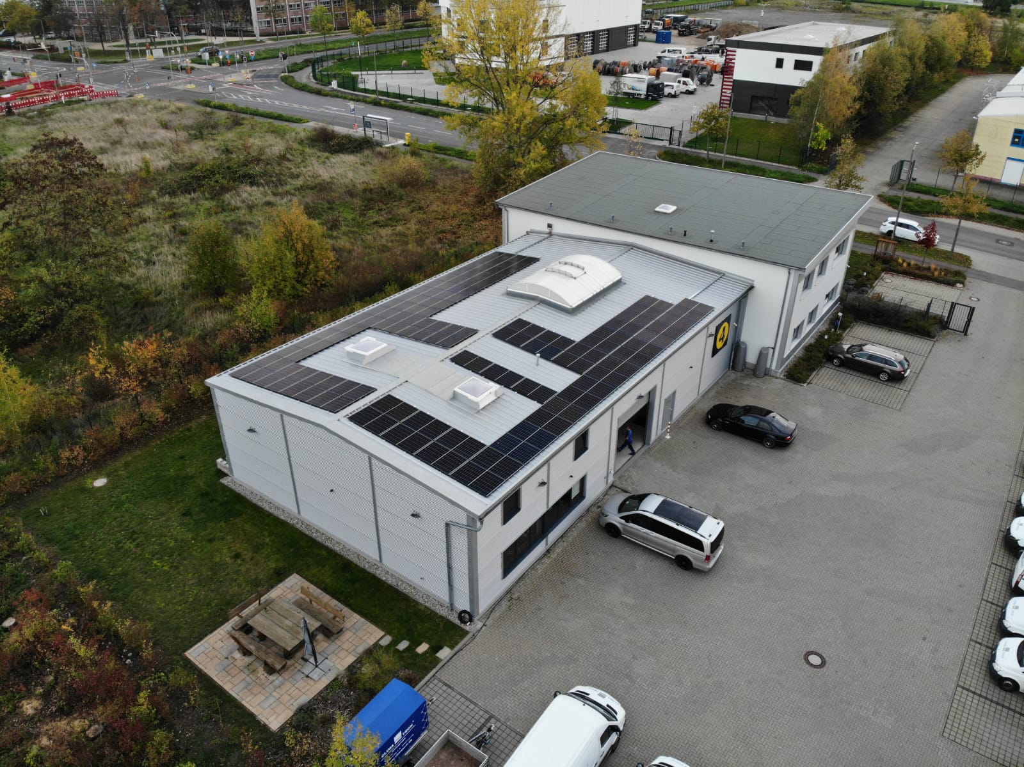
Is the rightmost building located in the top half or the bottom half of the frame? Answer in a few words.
top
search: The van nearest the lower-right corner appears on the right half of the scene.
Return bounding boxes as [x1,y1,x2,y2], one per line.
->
[986,645,1024,702]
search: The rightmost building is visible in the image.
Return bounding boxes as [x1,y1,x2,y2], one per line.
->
[964,73,1024,183]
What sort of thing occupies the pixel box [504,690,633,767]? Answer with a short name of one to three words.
van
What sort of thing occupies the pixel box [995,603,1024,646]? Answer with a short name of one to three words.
van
